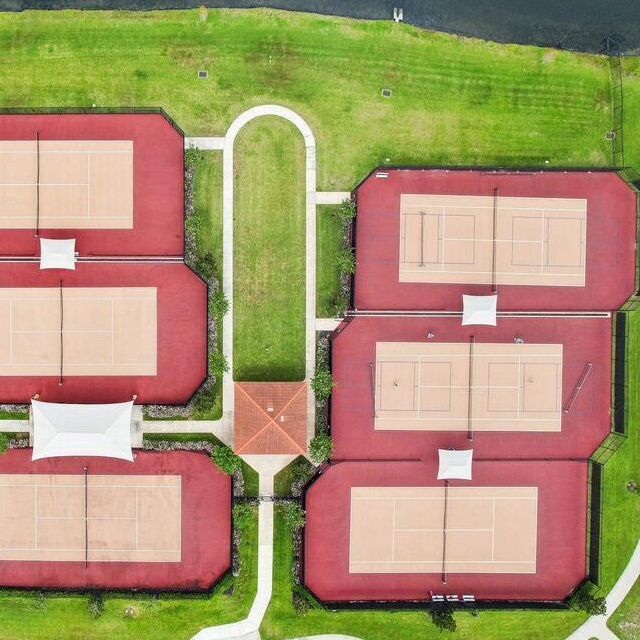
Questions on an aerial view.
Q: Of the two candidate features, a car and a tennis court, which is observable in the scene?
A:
tennis court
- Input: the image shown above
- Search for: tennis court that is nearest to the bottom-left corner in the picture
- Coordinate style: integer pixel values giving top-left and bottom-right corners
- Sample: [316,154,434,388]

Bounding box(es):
[0,449,232,589]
